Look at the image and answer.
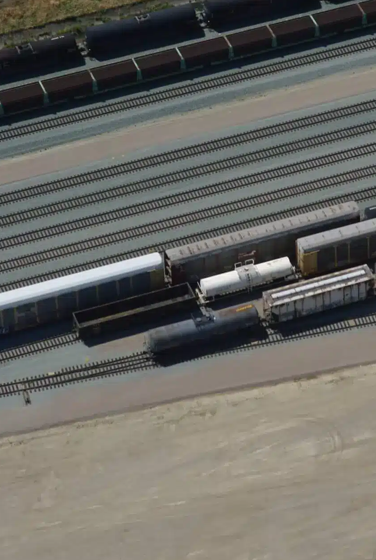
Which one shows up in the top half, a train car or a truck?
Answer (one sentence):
Looking in the top half, you will find a train car.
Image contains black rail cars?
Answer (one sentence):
Yes, the photo shows a black rail car.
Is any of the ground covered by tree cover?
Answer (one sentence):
No, the scene doesn't show any tree cover.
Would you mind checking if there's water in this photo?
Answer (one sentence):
No, water can't be seen anywhere here.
